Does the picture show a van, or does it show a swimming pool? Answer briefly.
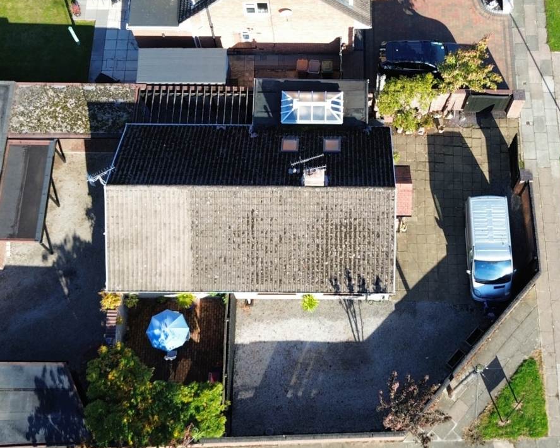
van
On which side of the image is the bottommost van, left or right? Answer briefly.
right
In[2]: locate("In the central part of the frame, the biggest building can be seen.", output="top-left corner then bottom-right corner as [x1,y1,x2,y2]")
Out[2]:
[102,126,398,306]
